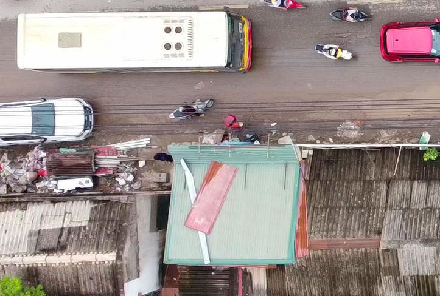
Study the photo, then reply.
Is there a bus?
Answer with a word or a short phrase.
Yes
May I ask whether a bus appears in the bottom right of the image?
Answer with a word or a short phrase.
No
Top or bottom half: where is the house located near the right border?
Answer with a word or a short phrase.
bottom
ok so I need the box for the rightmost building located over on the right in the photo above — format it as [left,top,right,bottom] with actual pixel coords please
[268,145,440,296]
